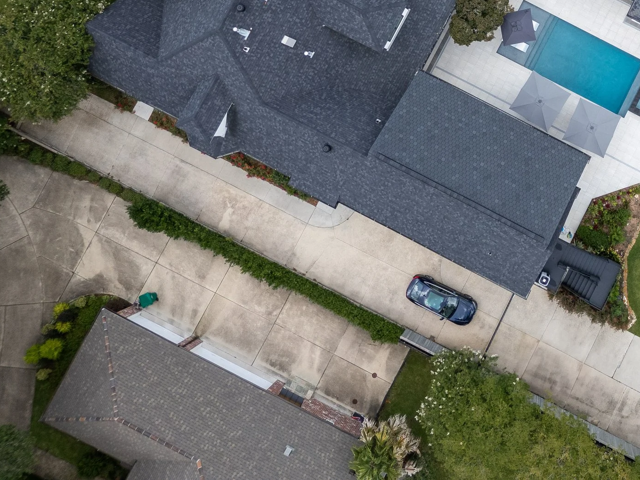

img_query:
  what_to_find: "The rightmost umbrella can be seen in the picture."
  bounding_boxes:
[564,99,622,157]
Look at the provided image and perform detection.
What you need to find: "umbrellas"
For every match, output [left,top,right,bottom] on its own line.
[503,9,537,47]
[564,99,622,157]
[510,71,570,133]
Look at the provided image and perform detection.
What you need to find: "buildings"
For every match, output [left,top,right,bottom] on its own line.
[39,305,365,480]
[86,0,640,299]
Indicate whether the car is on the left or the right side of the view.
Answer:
right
